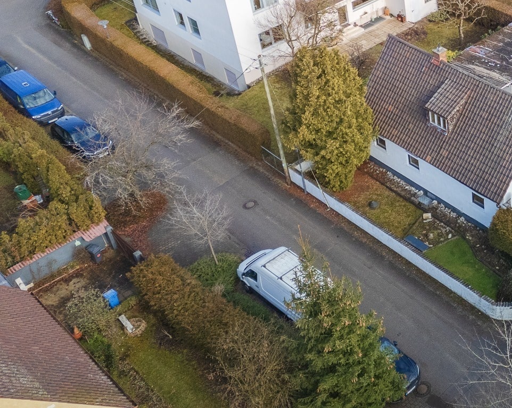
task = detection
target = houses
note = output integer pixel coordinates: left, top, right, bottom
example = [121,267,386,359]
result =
[365,31,512,231]
[0,288,146,408]
[132,0,392,86]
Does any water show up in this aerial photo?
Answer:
No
